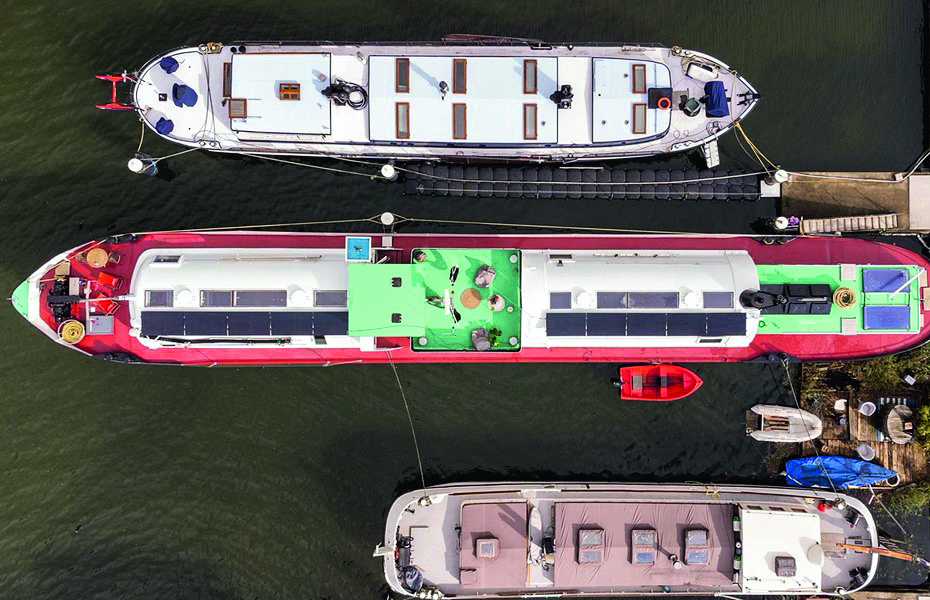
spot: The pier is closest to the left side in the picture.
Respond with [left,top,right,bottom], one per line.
[404,167,760,200]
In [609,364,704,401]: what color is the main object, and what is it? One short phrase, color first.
red boat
